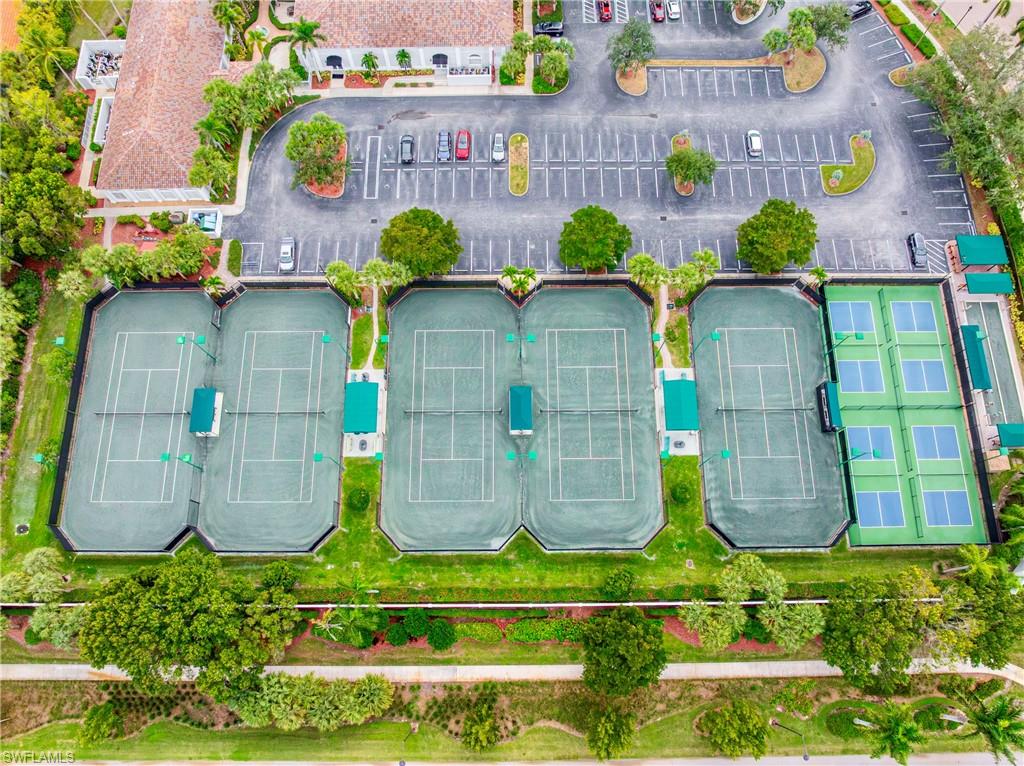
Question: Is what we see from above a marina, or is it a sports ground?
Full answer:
The area seen from above is a sports ground.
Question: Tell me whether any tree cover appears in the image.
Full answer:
Yes, the picture does contain tree cover.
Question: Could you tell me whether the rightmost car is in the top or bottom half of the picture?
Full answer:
The top half of the photo is where the rightmost car is.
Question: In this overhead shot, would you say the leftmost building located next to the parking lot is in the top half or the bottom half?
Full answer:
Seen from above, the leftmost building located next to the parking lot lies in the top half of the view.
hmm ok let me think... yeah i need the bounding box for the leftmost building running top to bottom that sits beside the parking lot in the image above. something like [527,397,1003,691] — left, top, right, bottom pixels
[96,0,224,203]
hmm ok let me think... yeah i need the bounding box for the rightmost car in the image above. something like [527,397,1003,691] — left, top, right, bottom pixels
[906,234,929,268]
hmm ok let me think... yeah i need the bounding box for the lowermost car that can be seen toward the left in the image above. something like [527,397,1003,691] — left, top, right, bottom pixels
[279,238,296,270]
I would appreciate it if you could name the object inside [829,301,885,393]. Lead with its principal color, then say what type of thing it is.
blue sports court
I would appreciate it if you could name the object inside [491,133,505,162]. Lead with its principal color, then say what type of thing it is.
white car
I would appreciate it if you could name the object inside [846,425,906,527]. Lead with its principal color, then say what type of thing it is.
blue sports court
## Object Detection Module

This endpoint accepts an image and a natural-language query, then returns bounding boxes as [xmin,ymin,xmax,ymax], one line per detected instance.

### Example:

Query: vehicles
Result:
[279,238,296,270]
[906,234,929,268]
[400,136,414,164]
[665,0,680,22]
[533,20,564,37]
[456,132,470,159]
[650,0,665,21]
[598,0,612,21]
[491,133,505,162]
[844,0,874,19]
[436,130,451,162]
